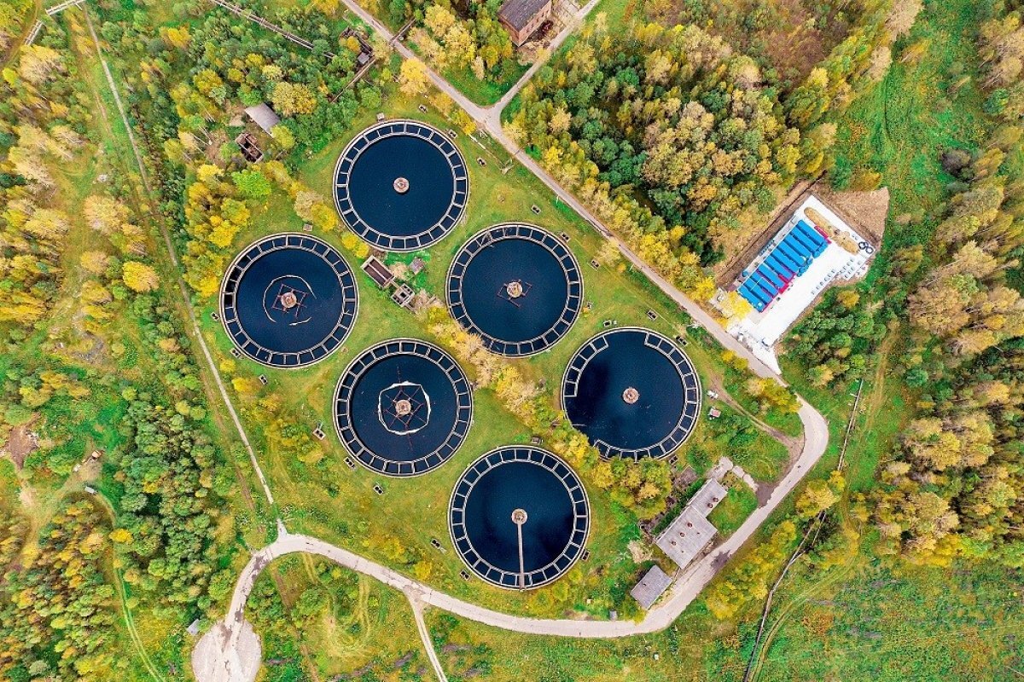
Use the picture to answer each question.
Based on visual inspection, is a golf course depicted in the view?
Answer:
No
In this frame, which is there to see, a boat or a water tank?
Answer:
water tank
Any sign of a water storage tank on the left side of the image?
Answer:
Yes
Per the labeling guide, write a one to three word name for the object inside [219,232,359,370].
water tank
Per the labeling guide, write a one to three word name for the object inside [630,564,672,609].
shed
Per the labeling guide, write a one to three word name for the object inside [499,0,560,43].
house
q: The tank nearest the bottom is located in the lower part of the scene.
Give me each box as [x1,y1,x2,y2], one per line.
[448,445,591,592]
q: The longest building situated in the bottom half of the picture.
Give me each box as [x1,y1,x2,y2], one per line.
[654,478,728,569]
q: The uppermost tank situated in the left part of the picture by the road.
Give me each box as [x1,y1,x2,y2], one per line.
[333,118,470,253]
